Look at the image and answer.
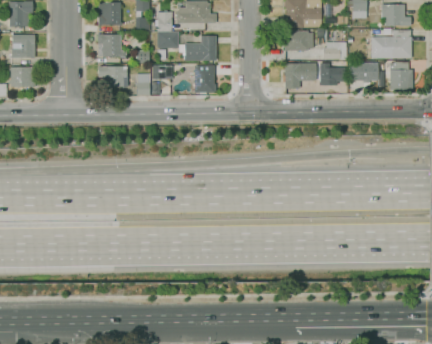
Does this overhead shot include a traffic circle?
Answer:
No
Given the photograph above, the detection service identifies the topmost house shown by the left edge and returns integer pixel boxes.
[10,0,34,26]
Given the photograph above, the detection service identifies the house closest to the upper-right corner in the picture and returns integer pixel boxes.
[384,4,412,26]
